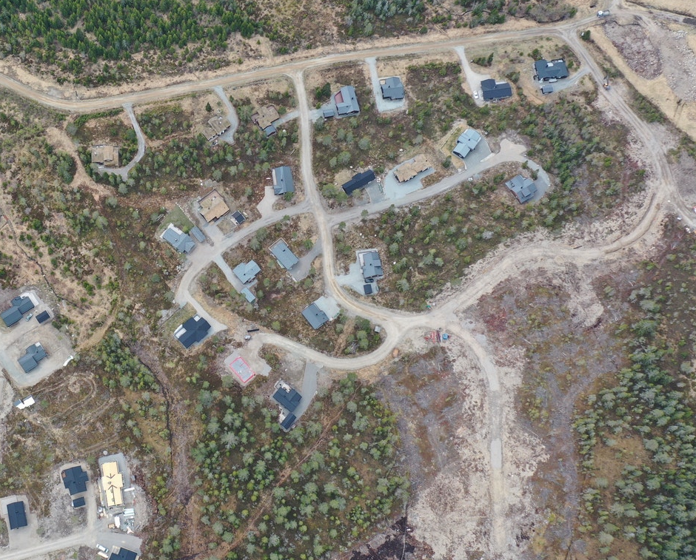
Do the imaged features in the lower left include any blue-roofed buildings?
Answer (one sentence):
Yes, the scene does show a blue-roofed building in the lower left.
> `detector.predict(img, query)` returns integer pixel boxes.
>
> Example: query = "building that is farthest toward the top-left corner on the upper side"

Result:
[92,145,119,170]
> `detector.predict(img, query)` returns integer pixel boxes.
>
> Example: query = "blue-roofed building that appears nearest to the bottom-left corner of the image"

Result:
[0,495,28,530]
